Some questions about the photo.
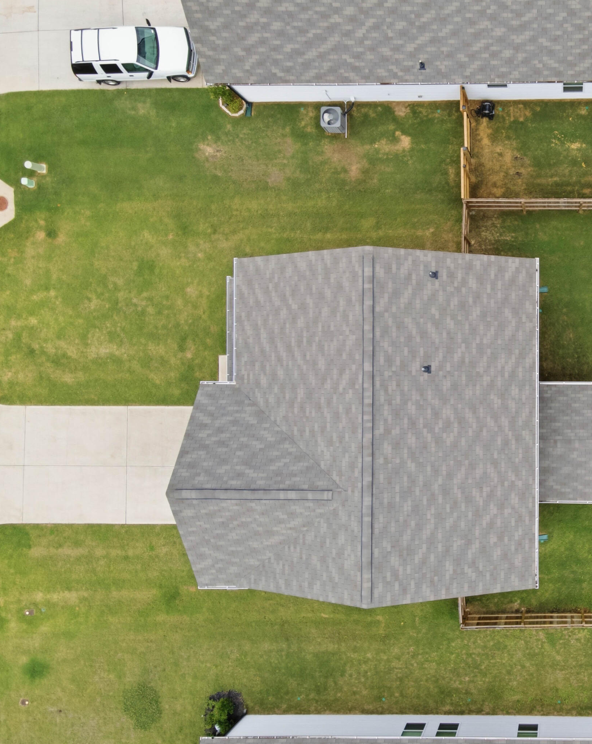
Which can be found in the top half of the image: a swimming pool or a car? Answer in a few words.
car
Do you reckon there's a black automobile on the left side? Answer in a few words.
No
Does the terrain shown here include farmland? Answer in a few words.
No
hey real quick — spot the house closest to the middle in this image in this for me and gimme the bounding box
[168,247,592,609]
